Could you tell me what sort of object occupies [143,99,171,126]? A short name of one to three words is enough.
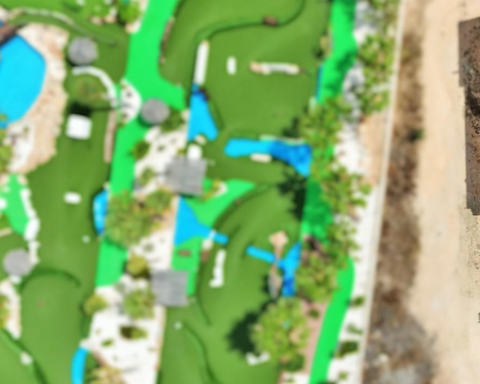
umbrella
